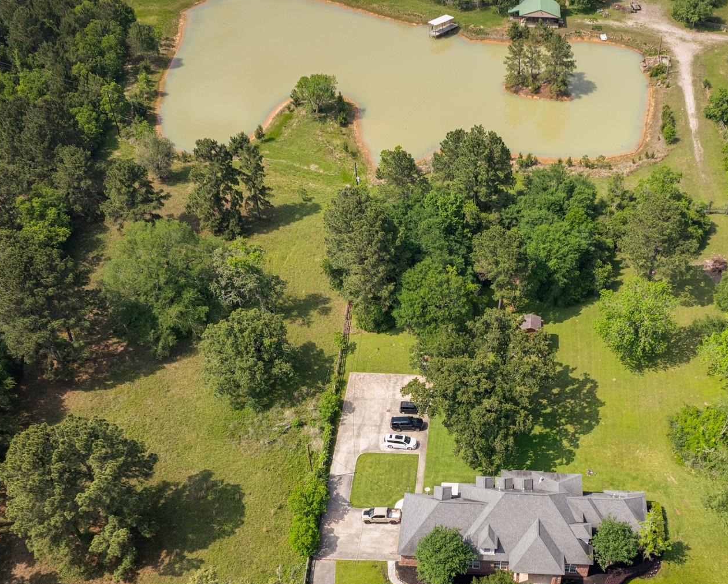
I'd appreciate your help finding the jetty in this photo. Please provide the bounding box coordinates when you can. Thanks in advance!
[428,14,459,37]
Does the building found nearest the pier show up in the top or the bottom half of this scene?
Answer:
top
